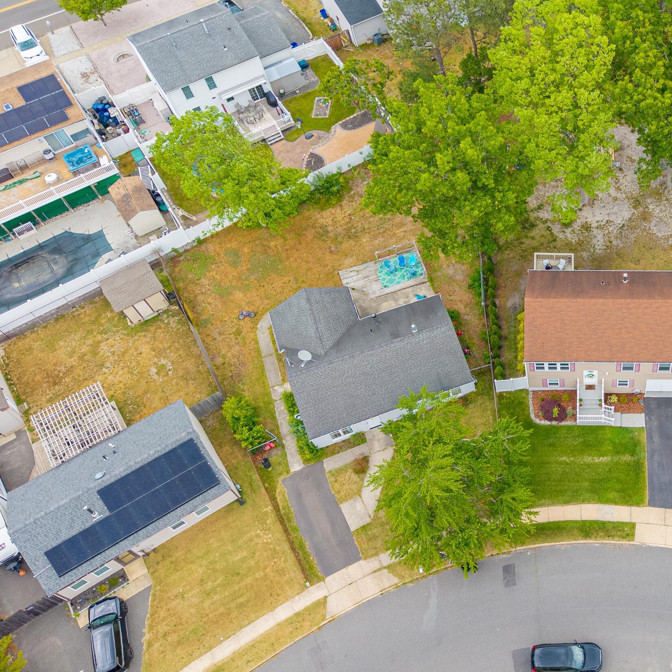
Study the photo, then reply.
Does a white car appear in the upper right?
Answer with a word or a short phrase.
No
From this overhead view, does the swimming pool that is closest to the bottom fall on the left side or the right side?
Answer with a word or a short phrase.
left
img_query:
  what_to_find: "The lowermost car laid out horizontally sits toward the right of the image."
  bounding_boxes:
[530,639,602,672]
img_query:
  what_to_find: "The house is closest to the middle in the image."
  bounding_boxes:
[269,286,473,450]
